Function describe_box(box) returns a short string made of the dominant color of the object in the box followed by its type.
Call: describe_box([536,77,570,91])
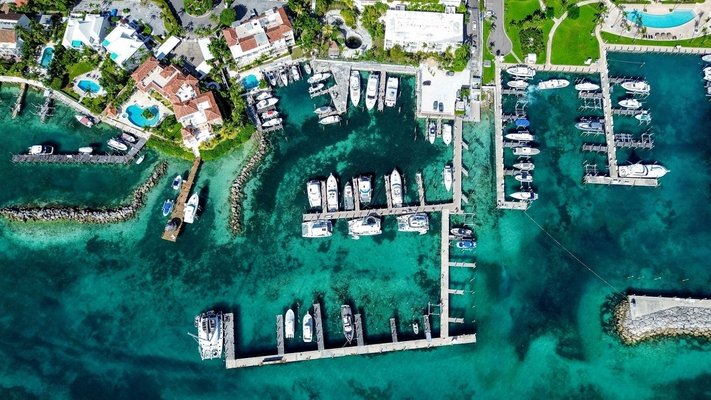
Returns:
white boat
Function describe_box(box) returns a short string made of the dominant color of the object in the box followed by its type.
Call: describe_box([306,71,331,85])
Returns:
white boat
